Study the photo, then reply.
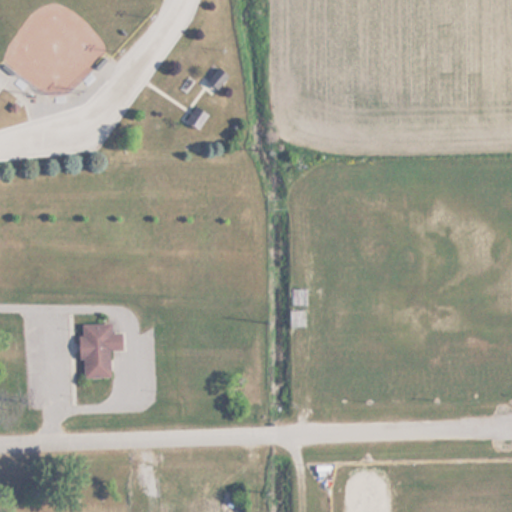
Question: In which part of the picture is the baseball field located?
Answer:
top left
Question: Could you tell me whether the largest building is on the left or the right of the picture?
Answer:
left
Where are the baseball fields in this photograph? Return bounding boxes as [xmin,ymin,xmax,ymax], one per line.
[0,0,162,94]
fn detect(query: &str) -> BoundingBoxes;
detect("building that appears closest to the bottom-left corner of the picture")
[80,325,124,380]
